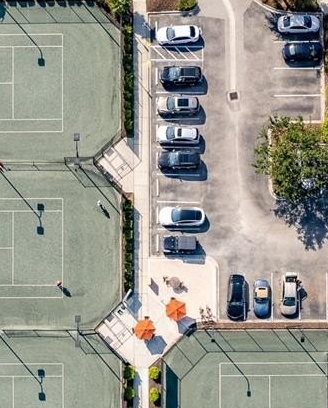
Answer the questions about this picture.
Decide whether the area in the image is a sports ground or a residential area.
sports ground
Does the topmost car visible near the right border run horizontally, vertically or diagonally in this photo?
horizontally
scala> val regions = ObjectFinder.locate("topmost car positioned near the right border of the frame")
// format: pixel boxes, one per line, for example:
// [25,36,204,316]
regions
[276,14,320,37]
